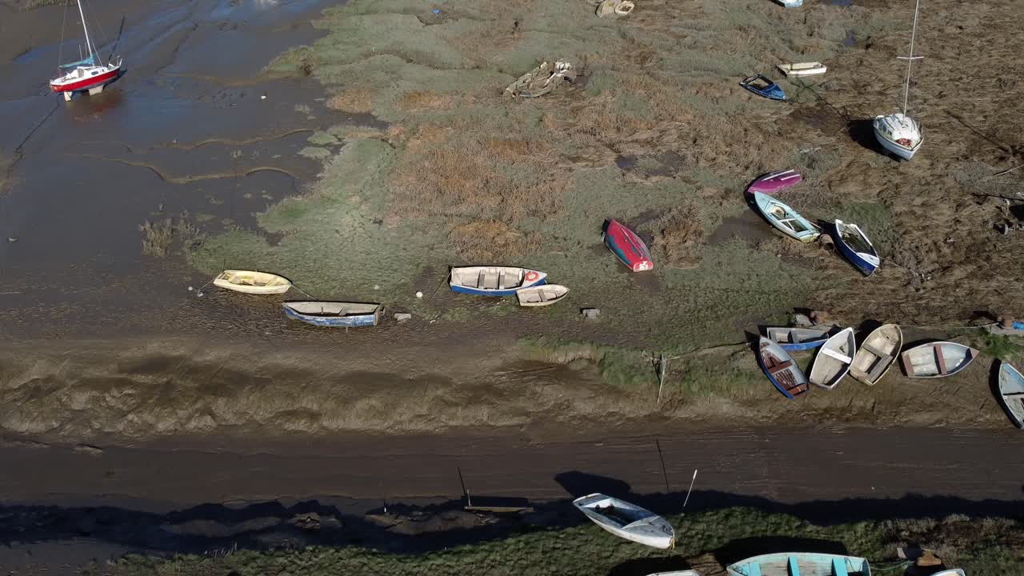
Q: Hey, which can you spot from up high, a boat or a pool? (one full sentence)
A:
This aerial view contains a boat.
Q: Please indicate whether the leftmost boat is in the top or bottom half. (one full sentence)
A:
It is in the top half that the leftmost boat appears.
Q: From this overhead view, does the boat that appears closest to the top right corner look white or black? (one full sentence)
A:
In this view, the boat that appears closest to the top right corner is white.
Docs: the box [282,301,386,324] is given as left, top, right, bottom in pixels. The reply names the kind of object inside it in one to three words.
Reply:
boat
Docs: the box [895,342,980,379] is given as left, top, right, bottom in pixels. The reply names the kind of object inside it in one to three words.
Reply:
boat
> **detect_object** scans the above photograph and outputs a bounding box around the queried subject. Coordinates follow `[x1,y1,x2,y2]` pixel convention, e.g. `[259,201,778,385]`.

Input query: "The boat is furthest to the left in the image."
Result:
[45,0,121,99]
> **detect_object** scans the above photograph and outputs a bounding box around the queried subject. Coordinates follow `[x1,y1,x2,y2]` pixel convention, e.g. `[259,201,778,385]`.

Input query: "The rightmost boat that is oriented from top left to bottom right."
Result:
[836,223,882,269]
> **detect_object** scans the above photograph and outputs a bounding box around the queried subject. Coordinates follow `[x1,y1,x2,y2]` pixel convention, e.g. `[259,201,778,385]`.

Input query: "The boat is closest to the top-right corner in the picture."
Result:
[876,0,931,159]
